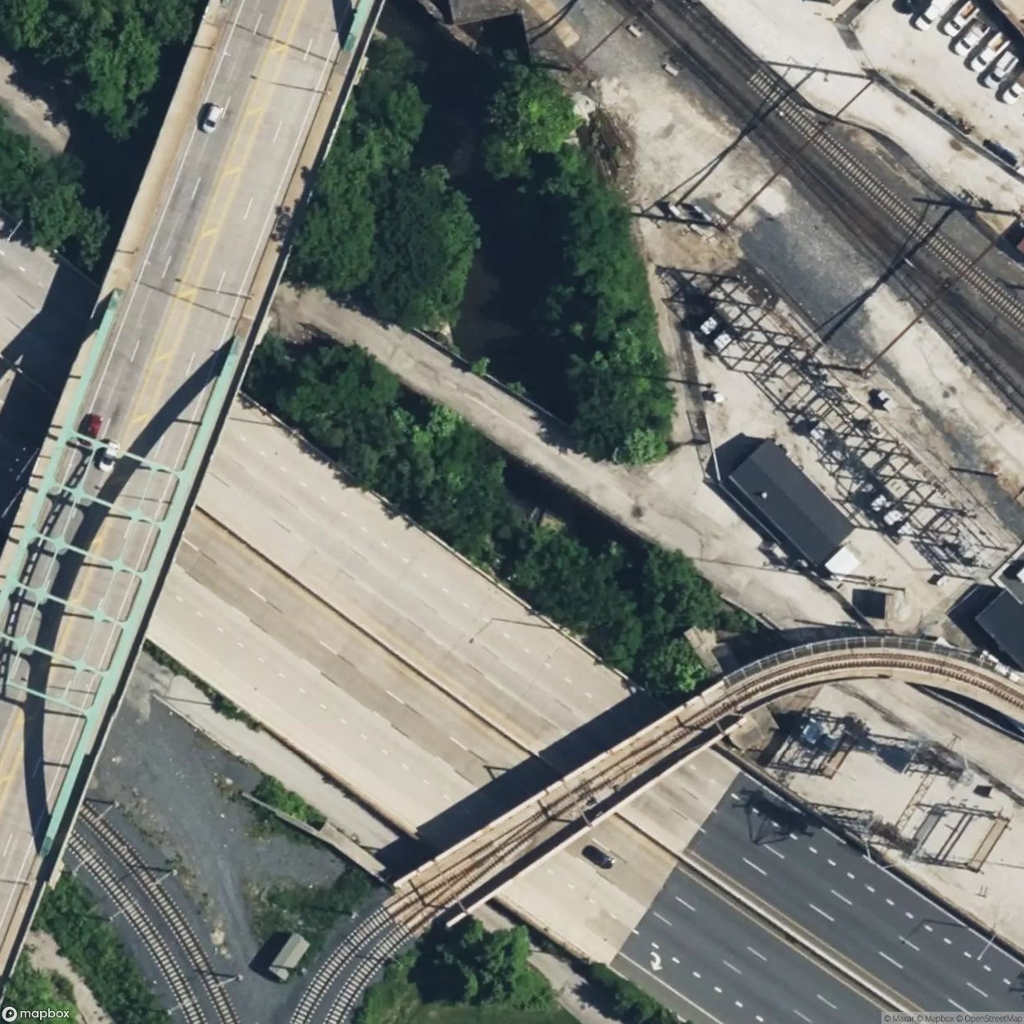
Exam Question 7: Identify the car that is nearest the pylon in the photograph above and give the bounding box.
[583,843,617,871]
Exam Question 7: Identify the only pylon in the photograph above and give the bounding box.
[830,804,899,856]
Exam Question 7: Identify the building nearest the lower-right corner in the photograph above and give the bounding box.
[975,590,1024,668]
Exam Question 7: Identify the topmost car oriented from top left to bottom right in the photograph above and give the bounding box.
[984,139,1017,167]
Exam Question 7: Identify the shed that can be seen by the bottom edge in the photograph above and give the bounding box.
[270,934,310,980]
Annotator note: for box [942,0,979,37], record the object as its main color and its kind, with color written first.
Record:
white truck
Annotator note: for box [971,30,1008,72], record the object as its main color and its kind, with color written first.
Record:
white truck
